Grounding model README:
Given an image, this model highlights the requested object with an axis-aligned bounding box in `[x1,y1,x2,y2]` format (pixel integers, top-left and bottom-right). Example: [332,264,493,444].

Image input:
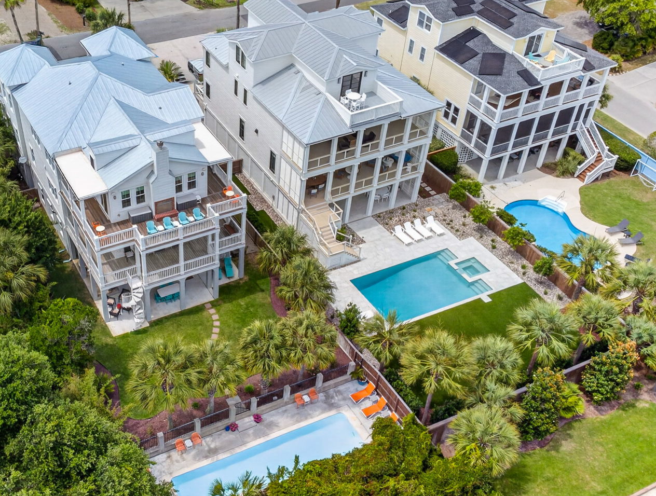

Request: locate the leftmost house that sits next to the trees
[0,24,250,324]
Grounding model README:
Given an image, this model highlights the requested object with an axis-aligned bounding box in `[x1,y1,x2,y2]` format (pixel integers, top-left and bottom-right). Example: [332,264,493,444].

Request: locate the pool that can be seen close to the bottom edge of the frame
[156,404,391,496]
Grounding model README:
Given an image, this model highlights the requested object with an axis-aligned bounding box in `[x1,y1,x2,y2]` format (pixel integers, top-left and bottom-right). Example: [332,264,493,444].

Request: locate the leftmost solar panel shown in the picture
[389,4,411,22]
